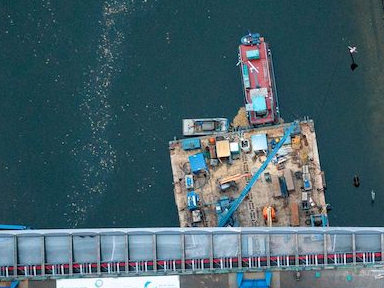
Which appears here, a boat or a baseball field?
boat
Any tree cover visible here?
No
